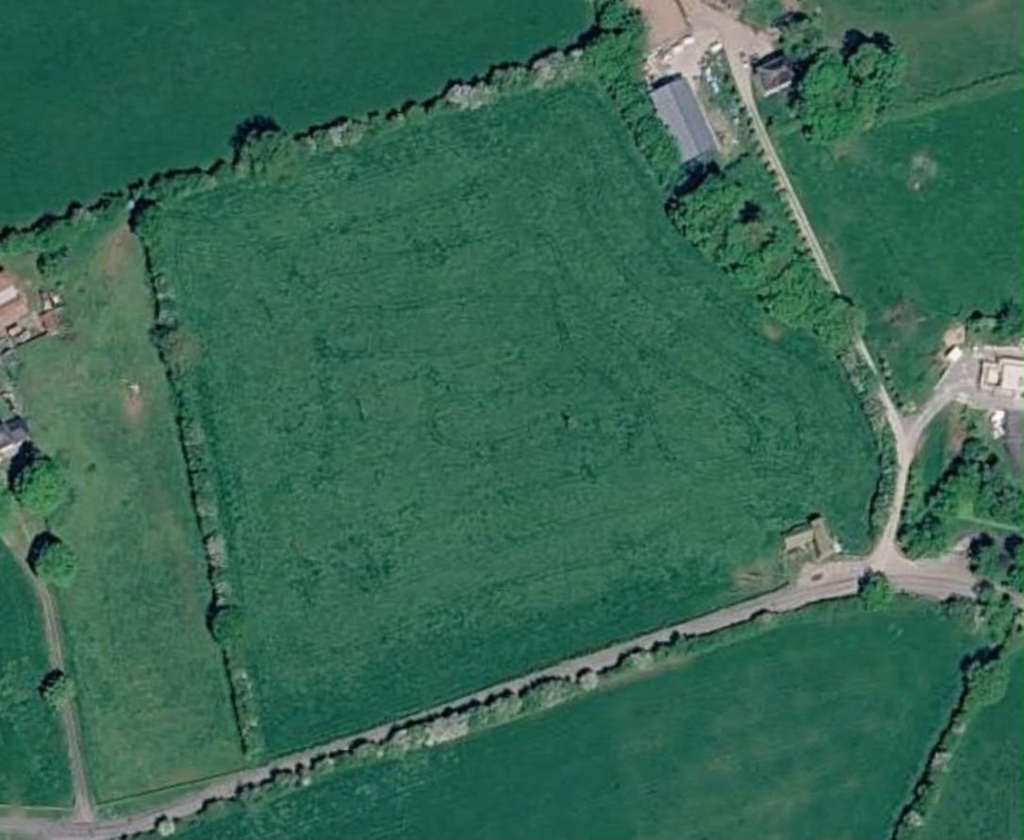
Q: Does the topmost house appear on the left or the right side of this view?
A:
right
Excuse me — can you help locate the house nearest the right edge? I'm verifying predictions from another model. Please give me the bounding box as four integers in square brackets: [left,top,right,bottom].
[981,358,1024,390]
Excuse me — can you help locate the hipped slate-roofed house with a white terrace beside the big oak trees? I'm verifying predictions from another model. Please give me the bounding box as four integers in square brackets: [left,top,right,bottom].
[755,57,794,93]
